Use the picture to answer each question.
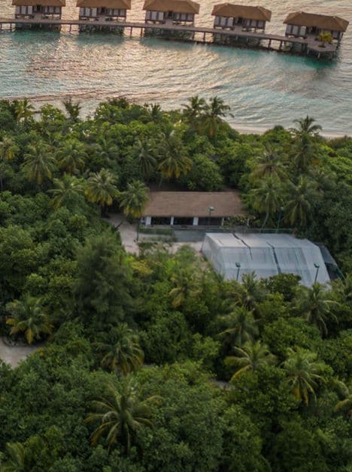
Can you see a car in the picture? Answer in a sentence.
No, no car is visible in the scene.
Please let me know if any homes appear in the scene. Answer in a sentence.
Yes, a home can be made out from above.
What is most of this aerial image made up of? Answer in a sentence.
The bulk of the photo consists of trees.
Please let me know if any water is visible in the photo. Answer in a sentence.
Yes, there is water in the image.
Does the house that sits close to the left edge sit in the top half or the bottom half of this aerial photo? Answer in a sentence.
Seen from above, the house that sits close to the left edge lies in the top half of the view.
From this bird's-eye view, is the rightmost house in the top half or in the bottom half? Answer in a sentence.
Seen from above, the rightmost house lies in the top half of the view.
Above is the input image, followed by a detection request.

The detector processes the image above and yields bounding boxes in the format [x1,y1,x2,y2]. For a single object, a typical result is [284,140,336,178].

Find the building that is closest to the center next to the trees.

[135,191,251,228]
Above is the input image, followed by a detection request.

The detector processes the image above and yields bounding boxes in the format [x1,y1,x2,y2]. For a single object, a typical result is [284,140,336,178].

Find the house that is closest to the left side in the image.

[12,0,65,24]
